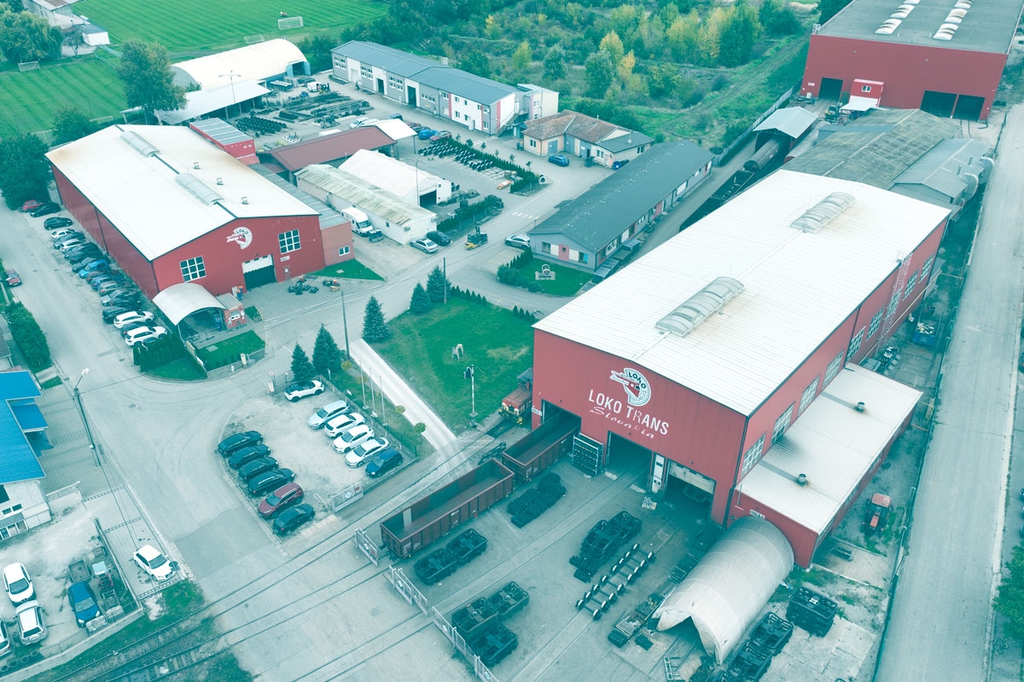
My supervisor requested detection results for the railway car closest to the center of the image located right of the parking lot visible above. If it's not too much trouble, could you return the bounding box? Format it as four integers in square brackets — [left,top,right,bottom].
[491,361,531,427]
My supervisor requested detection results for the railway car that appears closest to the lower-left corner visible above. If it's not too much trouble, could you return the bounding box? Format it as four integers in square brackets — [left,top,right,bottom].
[377,456,518,564]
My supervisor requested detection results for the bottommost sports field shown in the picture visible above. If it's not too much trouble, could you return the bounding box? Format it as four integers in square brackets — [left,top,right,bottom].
[0,55,135,151]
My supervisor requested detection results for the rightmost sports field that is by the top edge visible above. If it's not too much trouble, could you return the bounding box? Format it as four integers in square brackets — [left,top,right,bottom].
[82,0,352,51]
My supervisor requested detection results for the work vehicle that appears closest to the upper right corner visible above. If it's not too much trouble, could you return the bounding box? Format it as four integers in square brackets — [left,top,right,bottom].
[826,98,838,119]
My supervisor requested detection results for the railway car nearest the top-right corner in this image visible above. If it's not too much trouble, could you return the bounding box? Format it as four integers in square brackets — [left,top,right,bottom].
[794,135,817,156]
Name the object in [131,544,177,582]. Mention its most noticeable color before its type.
white car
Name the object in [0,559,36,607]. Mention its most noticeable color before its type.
white car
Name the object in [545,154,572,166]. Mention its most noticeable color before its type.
blue vehicle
